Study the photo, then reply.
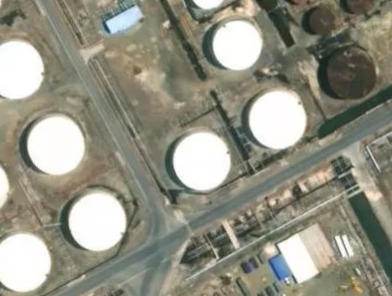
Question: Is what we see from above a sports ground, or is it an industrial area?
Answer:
industrial area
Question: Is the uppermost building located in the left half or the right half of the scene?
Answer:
left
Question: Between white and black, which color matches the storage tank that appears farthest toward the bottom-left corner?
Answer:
white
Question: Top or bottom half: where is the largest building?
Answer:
bottom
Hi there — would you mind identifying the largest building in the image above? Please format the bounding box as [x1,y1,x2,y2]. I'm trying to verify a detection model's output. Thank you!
[276,222,337,283]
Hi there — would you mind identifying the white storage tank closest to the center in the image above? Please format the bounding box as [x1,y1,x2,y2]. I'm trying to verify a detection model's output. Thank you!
[172,131,233,193]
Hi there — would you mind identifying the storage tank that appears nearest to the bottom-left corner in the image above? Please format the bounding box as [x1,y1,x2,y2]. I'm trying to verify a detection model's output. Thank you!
[0,232,52,294]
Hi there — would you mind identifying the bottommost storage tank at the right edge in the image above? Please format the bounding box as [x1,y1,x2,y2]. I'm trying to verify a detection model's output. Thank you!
[325,47,379,102]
